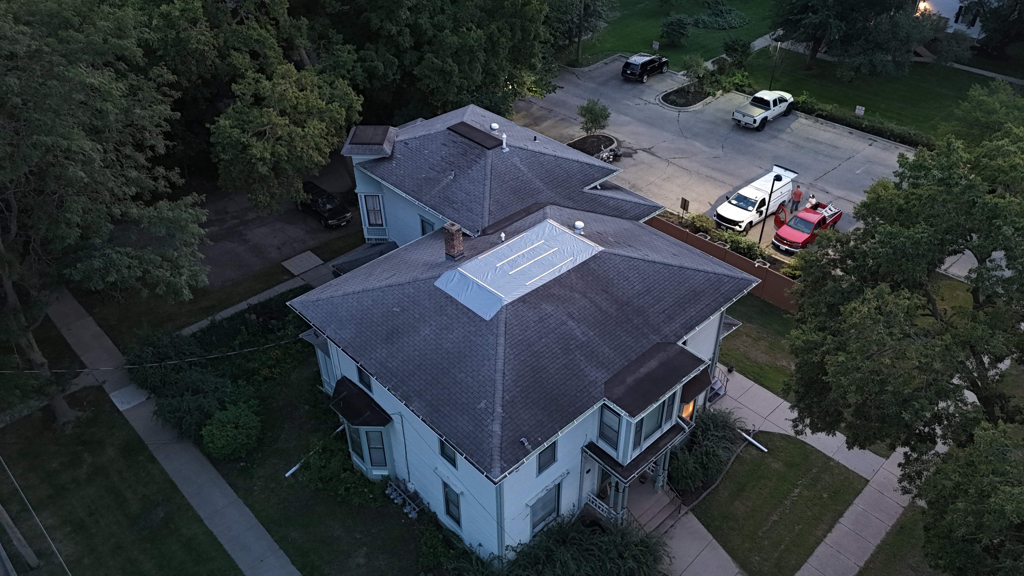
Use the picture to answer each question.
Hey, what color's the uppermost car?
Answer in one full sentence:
The color of the uppermost car is black.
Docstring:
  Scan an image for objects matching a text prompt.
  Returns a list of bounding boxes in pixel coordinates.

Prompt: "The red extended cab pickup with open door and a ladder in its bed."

[771,201,844,254]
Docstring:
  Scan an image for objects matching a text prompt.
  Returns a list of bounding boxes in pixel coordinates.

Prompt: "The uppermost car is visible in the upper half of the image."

[619,50,674,83]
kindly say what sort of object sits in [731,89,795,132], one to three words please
truck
